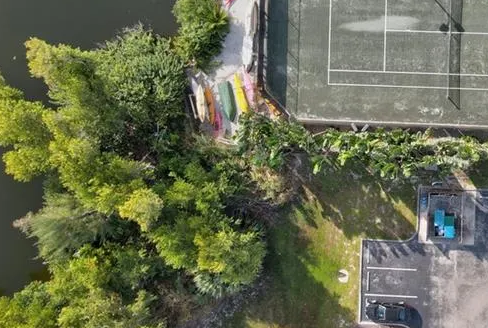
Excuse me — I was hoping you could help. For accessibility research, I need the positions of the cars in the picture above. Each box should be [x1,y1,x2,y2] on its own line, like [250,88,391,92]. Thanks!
[365,300,414,324]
